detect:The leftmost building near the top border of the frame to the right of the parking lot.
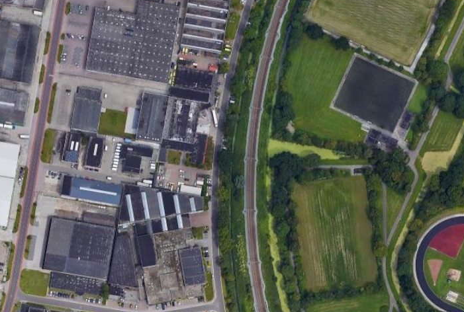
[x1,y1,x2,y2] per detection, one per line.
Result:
[87,0,180,85]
